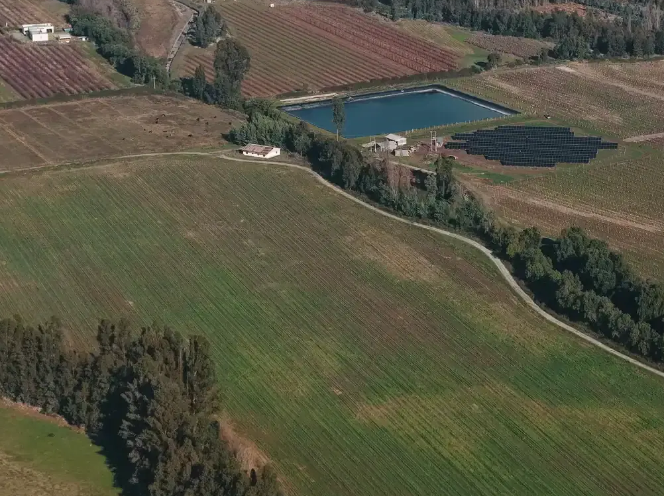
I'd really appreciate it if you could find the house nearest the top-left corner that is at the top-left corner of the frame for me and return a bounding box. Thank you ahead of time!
[21,19,59,41]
